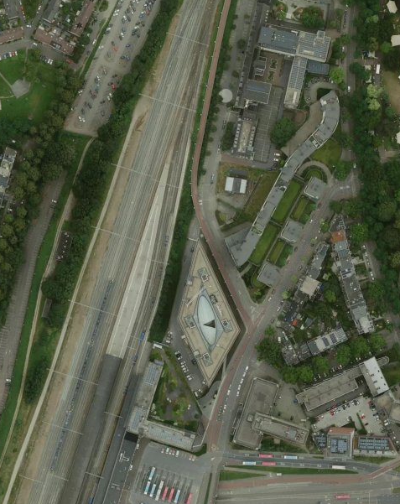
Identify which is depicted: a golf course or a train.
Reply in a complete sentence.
Of the two, only a train appears.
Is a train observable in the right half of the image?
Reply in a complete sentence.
No, the scene shows no train in the right half of the image.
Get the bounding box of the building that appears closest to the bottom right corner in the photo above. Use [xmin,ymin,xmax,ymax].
[355,437,397,456]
